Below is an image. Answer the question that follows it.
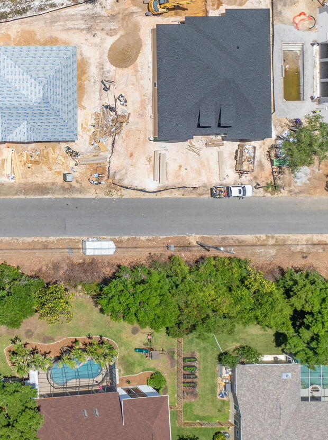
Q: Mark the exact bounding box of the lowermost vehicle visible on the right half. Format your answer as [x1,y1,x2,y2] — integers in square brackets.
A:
[212,185,255,202]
